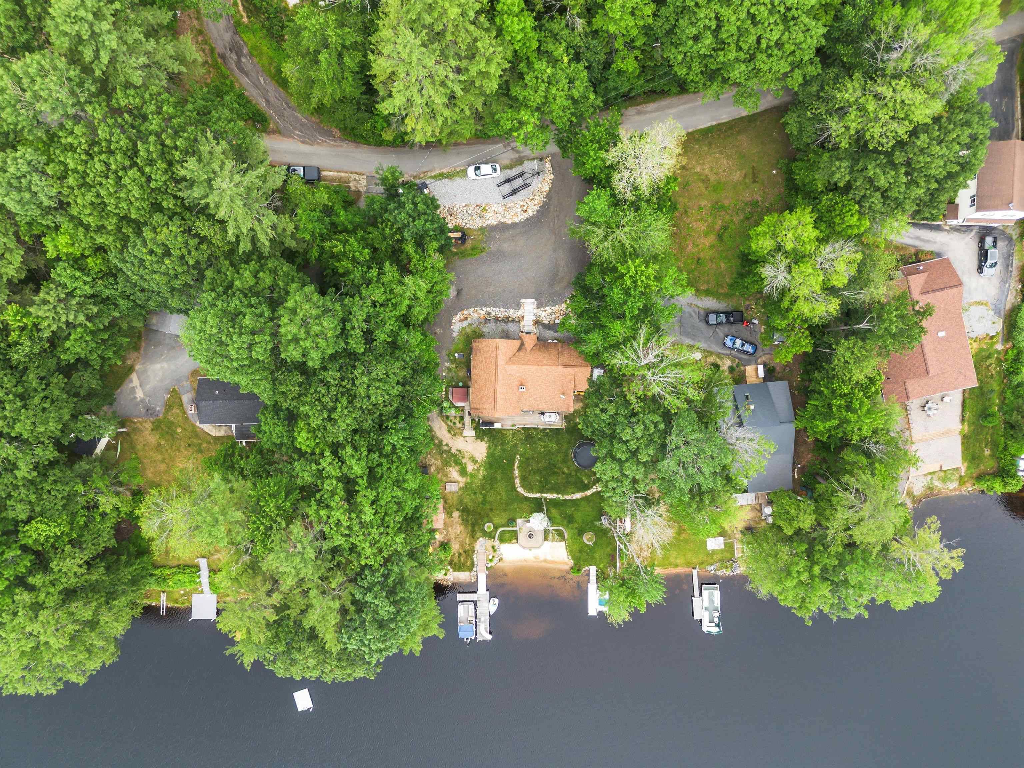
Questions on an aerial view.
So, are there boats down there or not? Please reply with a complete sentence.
Yes, the photo shows a boat.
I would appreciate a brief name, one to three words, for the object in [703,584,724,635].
boat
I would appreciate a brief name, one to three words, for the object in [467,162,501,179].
car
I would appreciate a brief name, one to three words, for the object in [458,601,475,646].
boat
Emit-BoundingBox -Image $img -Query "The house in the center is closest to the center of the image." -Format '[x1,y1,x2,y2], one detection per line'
[470,332,590,416]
